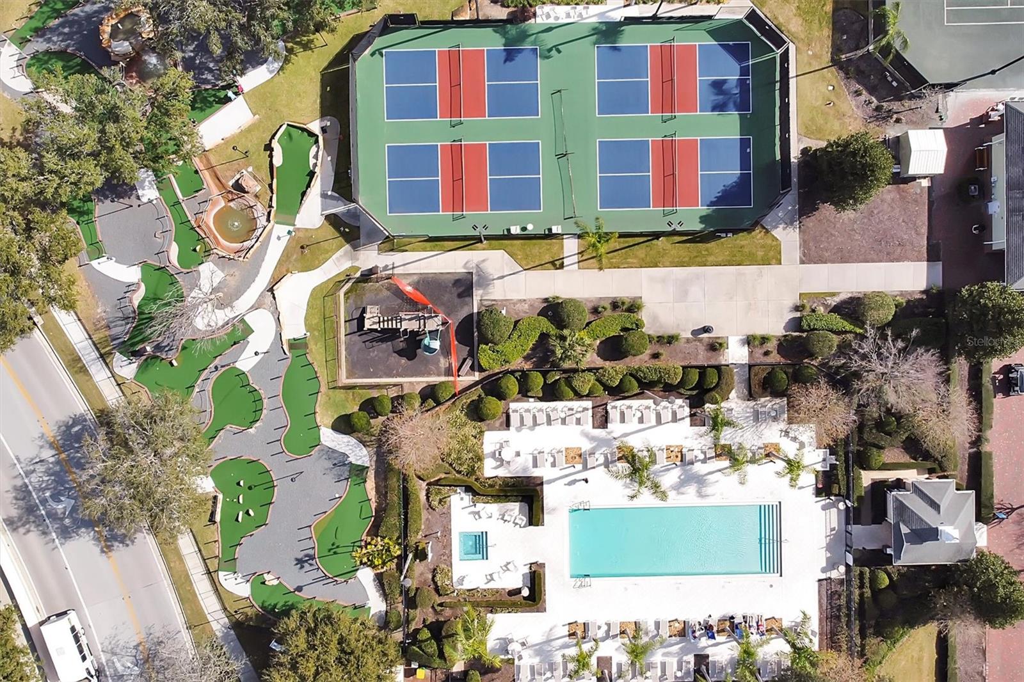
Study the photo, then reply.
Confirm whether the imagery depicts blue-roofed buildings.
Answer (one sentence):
No, the scene contains no blue-roofed building.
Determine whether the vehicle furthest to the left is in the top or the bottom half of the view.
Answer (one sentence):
The bottom half of the photo is where the vehicle furthest to the left is.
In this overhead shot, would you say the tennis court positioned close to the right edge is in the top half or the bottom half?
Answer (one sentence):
The tennis court positioned close to the right edge sits in the top half of the picture.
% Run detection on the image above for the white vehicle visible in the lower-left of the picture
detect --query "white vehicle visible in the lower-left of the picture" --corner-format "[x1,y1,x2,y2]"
[42,607,113,682]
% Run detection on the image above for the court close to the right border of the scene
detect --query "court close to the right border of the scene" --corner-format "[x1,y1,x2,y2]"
[885,0,1024,91]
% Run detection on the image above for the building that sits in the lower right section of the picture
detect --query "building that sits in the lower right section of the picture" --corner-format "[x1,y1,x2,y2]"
[887,479,978,565]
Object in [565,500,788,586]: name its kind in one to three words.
swimming pool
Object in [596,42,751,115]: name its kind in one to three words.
sports court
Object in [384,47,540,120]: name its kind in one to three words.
sports court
